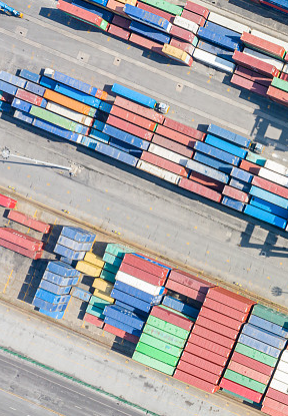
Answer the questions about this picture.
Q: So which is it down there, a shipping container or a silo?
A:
shipping container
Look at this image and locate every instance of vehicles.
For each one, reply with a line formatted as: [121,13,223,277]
[155,102,171,113]
[250,142,265,154]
